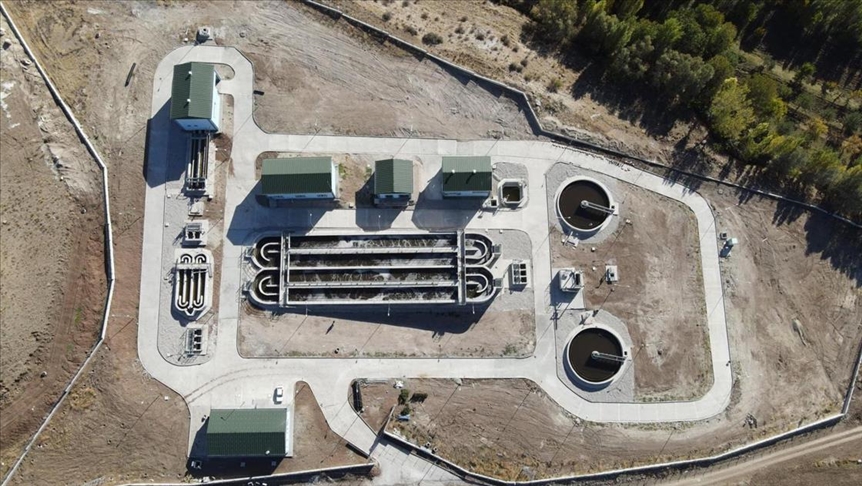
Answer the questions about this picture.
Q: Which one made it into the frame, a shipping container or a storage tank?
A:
storage tank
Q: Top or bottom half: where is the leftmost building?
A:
top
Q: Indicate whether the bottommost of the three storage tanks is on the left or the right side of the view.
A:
right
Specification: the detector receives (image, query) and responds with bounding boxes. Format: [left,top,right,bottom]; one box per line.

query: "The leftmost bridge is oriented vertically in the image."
[277,234,292,307]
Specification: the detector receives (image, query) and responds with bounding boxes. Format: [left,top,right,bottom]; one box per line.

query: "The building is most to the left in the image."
[170,59,225,132]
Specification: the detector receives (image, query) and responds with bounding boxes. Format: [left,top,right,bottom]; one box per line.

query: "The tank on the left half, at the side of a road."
[172,248,219,331]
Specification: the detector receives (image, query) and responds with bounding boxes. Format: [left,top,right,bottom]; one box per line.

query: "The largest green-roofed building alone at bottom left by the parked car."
[203,407,291,459]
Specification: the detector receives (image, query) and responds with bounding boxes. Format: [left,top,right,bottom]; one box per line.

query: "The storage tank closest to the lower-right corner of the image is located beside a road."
[561,323,629,390]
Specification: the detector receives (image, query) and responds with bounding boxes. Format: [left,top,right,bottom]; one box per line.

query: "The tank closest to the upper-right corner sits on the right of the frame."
[551,179,619,239]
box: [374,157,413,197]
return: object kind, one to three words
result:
building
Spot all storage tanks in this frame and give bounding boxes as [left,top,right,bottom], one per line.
[561,323,629,390]
[551,179,619,239]
[172,248,219,331]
